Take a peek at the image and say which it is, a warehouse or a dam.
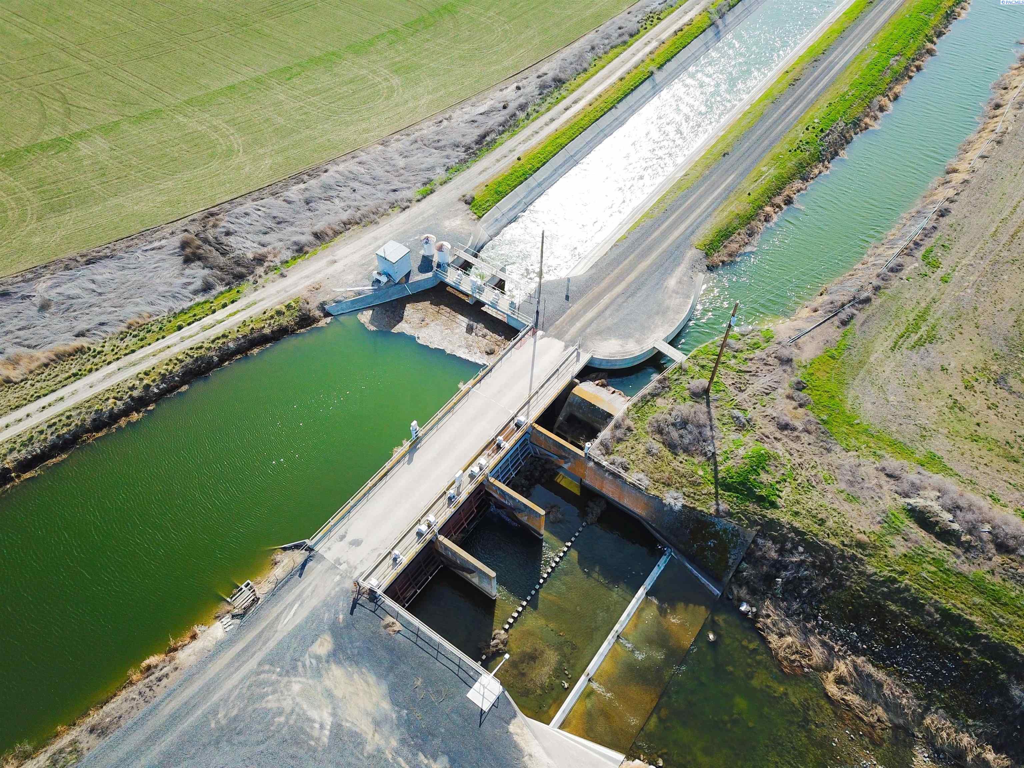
dam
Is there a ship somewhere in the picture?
No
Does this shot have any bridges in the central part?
Yes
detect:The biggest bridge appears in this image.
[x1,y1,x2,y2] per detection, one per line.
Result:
[309,325,596,596]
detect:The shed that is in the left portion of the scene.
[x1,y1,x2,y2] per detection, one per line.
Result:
[373,239,411,282]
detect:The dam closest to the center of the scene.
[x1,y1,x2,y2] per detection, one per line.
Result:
[551,380,627,454]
